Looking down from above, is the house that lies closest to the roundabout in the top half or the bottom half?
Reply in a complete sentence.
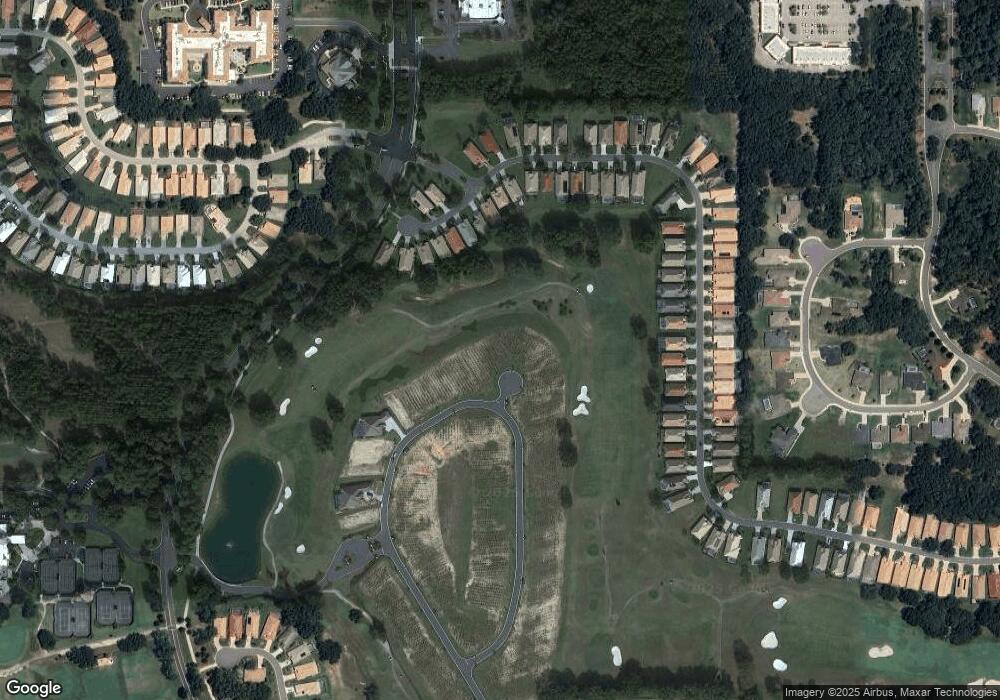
It is in the bottom half that the house that lies closest to the roundabout appears.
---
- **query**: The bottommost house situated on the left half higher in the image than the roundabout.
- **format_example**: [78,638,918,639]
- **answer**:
[338,479,377,510]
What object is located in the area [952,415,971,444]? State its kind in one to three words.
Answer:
house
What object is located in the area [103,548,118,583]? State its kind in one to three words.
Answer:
tennis court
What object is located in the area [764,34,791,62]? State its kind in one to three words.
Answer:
building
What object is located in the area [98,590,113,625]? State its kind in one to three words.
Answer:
tennis court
